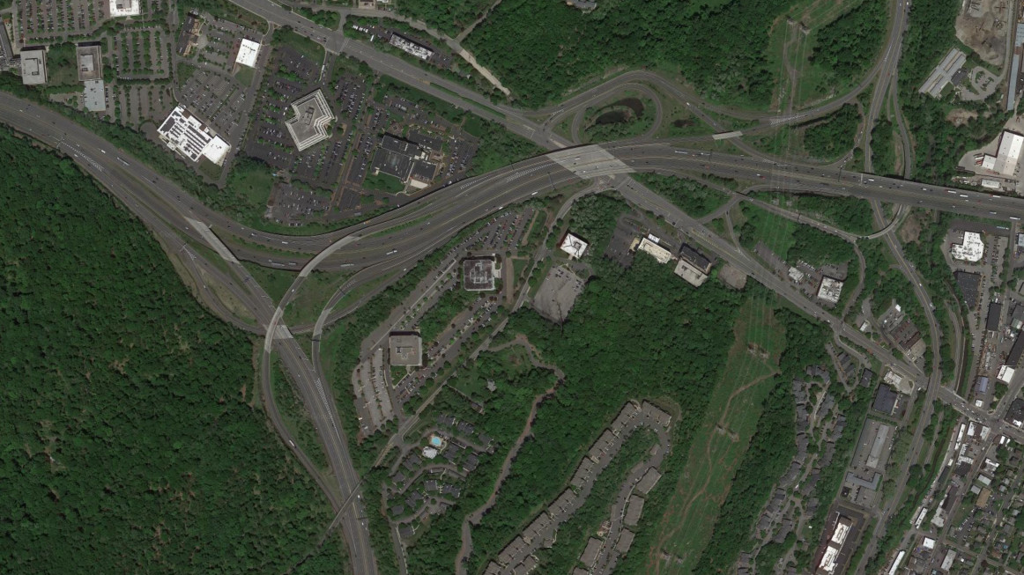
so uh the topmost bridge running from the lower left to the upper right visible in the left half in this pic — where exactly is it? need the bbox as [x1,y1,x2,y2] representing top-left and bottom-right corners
[299,231,358,276]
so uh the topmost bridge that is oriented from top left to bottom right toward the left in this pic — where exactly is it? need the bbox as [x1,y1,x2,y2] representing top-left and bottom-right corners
[182,213,242,268]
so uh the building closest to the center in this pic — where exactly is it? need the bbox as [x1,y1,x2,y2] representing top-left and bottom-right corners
[464,260,497,290]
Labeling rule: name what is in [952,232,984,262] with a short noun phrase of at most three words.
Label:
building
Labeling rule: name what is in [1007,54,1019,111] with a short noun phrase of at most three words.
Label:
shed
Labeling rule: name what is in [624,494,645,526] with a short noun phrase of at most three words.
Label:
house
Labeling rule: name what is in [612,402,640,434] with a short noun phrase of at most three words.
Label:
house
